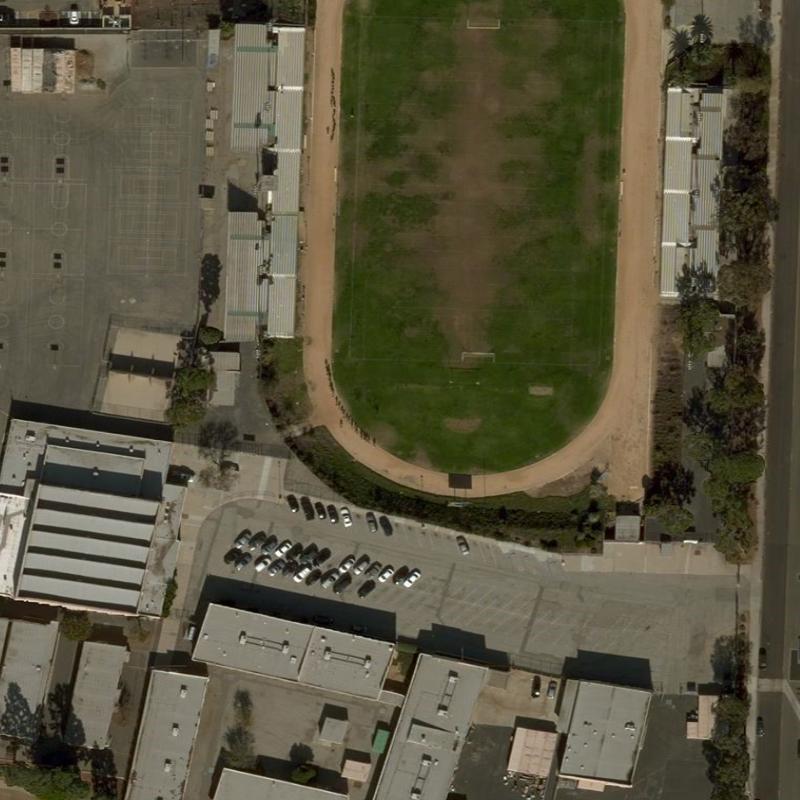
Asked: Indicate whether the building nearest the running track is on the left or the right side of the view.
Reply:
right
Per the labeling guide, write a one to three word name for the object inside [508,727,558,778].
shed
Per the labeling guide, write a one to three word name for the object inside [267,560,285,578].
car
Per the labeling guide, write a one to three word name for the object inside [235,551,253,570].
car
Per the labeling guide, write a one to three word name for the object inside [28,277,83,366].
basketball court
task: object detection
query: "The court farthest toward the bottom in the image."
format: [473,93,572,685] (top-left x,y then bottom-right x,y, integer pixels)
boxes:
[103,329,177,421]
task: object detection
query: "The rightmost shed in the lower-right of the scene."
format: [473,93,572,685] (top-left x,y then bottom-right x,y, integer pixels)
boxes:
[686,695,718,740]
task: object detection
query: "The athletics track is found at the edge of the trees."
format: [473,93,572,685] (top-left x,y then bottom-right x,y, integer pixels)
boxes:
[302,0,664,501]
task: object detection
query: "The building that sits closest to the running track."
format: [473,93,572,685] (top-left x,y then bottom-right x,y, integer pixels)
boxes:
[615,516,640,541]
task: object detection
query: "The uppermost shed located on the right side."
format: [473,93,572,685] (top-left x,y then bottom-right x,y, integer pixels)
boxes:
[708,345,726,368]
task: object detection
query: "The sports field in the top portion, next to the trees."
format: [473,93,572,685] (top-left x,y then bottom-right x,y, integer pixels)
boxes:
[334,0,623,471]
